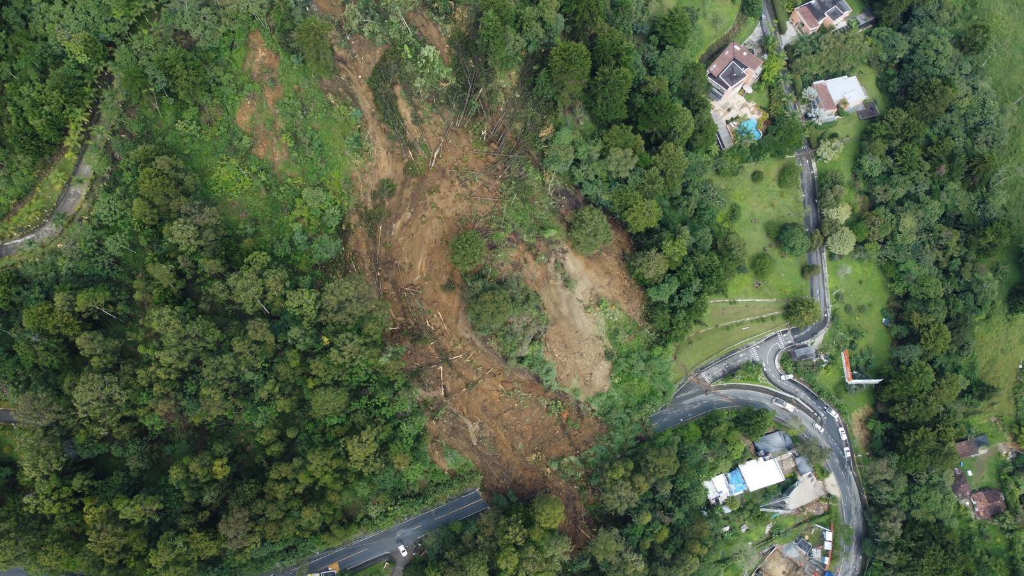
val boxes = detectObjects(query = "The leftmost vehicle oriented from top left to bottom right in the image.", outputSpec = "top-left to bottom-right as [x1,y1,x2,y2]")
[394,540,409,558]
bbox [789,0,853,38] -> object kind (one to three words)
house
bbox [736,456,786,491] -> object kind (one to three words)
building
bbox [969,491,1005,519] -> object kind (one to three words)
house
